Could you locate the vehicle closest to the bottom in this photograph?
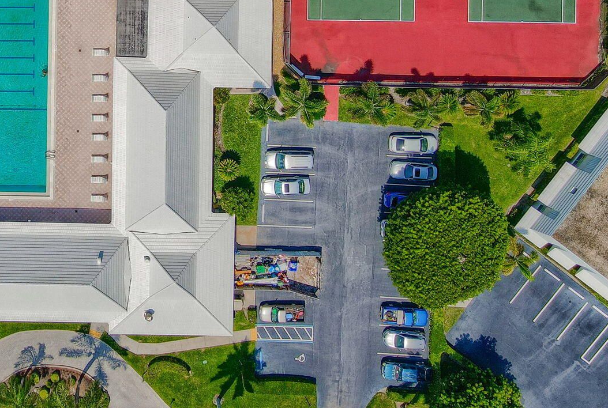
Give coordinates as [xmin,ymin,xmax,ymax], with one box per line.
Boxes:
[382,358,433,381]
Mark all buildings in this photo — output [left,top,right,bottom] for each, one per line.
[0,0,273,337]
[518,101,608,297]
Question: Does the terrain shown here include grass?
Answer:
Yes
